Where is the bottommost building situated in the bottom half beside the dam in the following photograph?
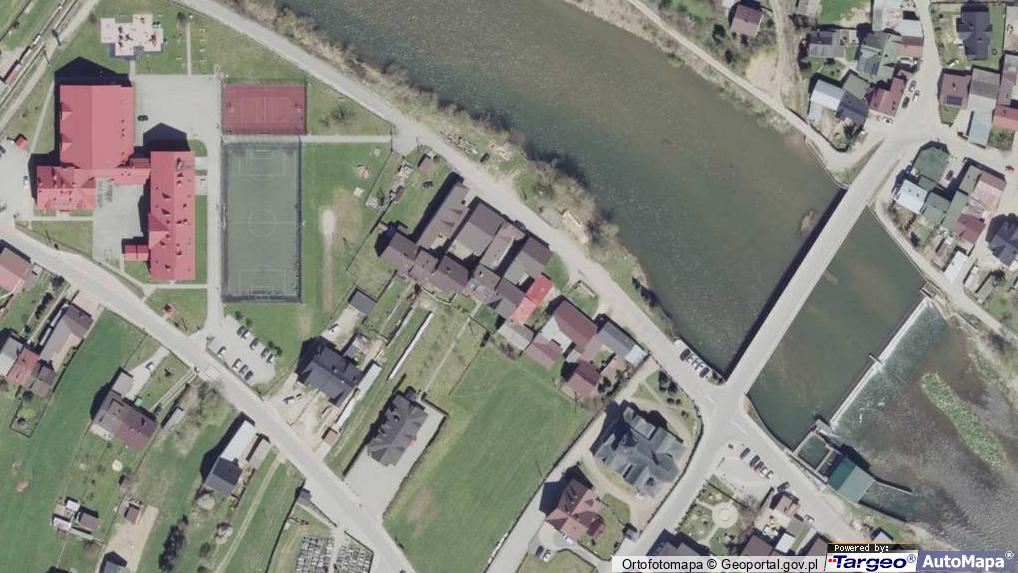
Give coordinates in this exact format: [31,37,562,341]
[827,455,876,502]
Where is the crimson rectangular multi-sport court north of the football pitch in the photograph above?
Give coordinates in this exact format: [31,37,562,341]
[222,84,306,134]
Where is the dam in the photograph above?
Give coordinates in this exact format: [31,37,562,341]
[813,285,936,440]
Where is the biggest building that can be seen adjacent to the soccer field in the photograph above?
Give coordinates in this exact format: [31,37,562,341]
[36,85,196,280]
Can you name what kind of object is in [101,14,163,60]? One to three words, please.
playground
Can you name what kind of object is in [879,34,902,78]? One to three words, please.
building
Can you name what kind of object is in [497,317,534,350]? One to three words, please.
shed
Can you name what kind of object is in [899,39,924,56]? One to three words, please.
house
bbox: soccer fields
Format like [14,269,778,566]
[222,142,301,303]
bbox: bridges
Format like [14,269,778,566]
[724,185,869,397]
